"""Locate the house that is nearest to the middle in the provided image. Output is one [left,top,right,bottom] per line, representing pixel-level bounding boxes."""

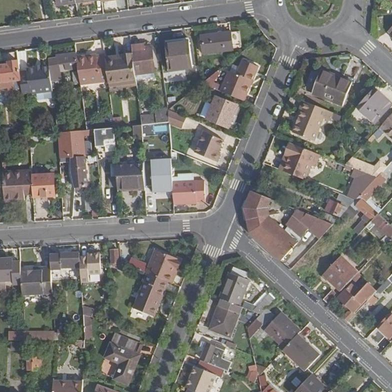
[173,173,206,208]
